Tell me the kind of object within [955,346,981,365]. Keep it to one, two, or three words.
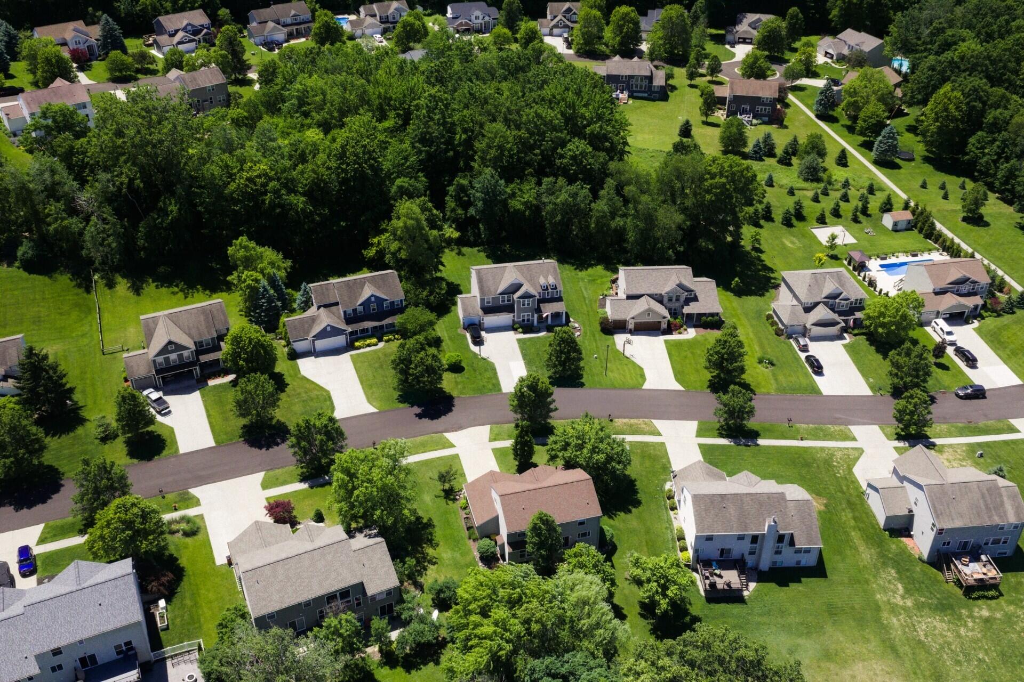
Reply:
car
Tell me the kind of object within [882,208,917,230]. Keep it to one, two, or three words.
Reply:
shed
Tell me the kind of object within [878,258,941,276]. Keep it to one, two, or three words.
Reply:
swimming pool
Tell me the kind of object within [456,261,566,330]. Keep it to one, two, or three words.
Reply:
house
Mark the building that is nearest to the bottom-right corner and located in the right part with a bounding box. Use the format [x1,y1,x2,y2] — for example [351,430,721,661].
[863,441,1024,563]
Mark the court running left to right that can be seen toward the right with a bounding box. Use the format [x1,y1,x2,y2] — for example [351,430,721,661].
[809,225,858,246]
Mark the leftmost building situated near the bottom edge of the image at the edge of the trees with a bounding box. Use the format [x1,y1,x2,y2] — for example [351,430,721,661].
[0,555,154,682]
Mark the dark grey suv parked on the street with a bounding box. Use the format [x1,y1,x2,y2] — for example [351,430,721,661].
[956,383,990,400]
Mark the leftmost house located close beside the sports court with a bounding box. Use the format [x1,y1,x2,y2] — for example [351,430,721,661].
[772,268,870,338]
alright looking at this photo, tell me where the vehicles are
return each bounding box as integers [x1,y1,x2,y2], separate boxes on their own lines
[15,543,36,576]
[0,557,17,583]
[274,40,283,47]
[956,383,990,400]
[467,324,482,341]
[790,333,810,350]
[565,39,573,47]
[561,32,569,39]
[804,354,827,372]
[143,391,169,413]
[263,40,274,49]
[4,86,23,95]
[934,316,956,338]
[955,346,981,365]
[374,34,382,41]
